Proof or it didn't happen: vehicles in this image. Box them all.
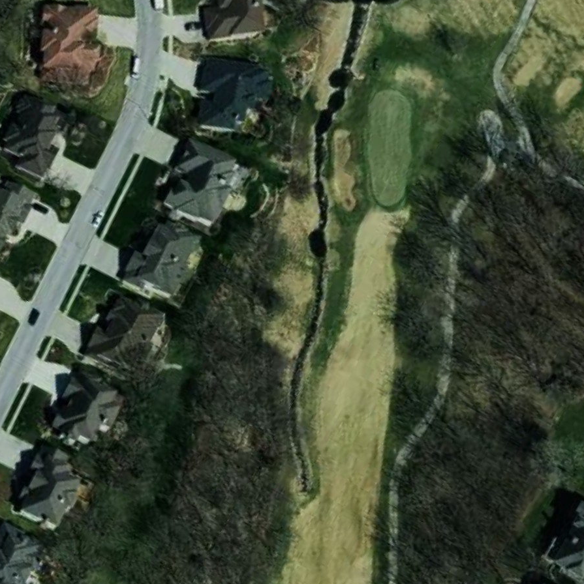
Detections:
[29,309,40,325]
[92,210,103,225]
[154,0,162,8]
[132,59,140,74]
[38,204,49,214]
